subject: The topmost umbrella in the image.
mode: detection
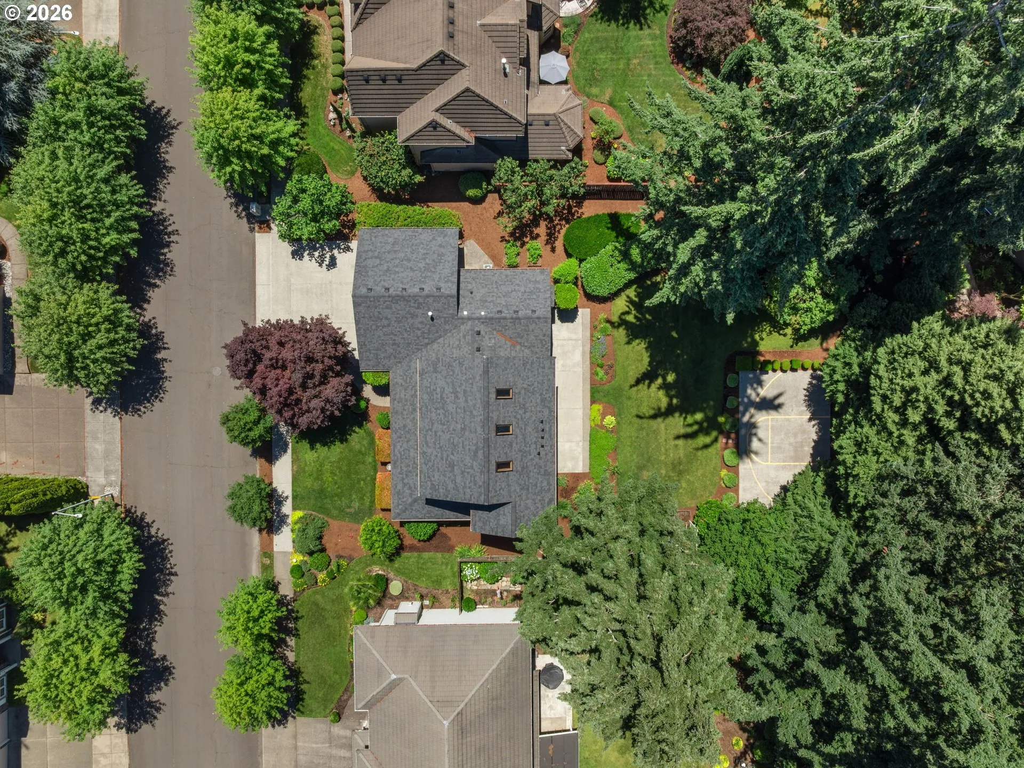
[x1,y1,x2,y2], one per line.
[540,56,568,85]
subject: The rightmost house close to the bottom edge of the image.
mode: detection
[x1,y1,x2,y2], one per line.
[351,602,541,768]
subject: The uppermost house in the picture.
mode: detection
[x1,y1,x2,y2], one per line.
[342,0,584,169]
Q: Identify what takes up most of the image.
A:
trees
